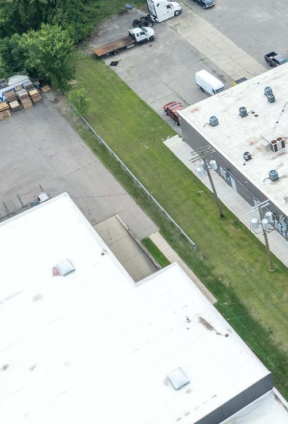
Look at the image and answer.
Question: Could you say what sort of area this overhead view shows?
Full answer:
It's an industrial area.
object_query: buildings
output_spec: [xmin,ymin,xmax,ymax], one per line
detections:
[0,193,273,424]
[177,62,288,238]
